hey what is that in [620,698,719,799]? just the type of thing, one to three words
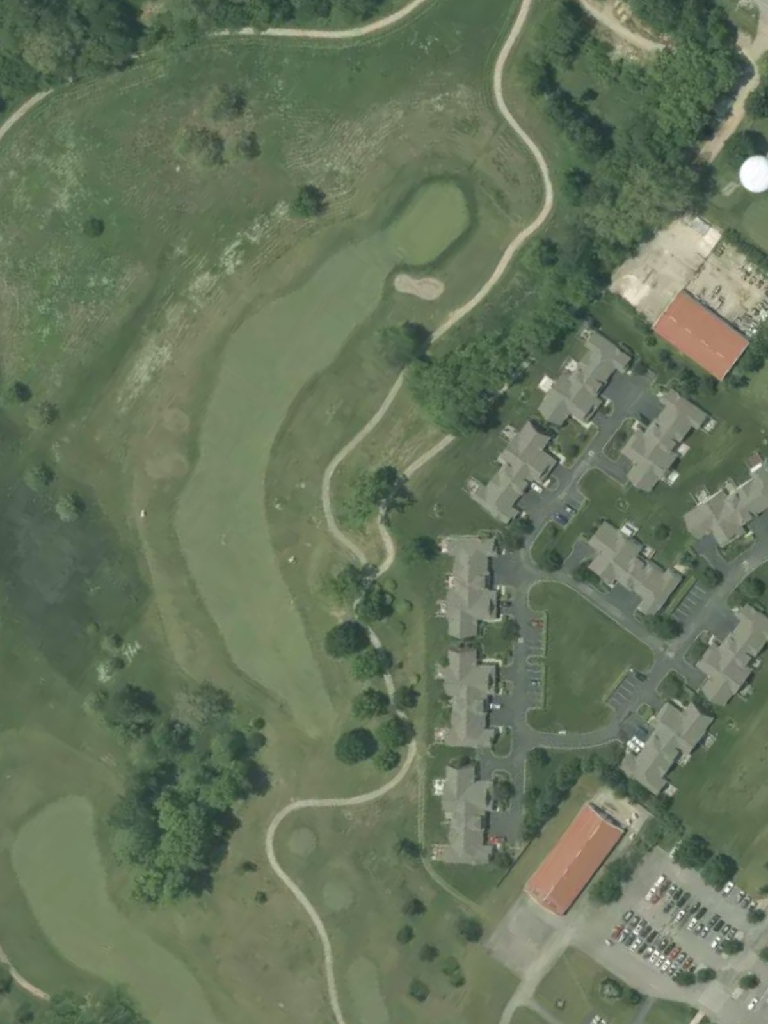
house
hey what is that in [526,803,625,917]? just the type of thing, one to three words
barn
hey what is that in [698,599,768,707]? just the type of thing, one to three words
house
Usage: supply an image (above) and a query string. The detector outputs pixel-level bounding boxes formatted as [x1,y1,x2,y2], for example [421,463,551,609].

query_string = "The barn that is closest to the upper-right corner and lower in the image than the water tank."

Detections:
[654,289,751,380]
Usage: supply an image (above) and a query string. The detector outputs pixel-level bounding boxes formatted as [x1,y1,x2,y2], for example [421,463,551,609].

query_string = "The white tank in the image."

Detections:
[734,147,768,190]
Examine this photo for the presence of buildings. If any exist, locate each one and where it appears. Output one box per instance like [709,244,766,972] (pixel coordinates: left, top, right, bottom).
[433,647,498,752]
[620,698,719,799]
[621,387,717,495]
[463,416,558,524]
[698,599,768,707]
[430,762,496,868]
[684,462,768,546]
[435,537,500,642]
[535,326,636,427]
[586,518,688,617]
[654,289,751,380]
[526,803,625,917]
